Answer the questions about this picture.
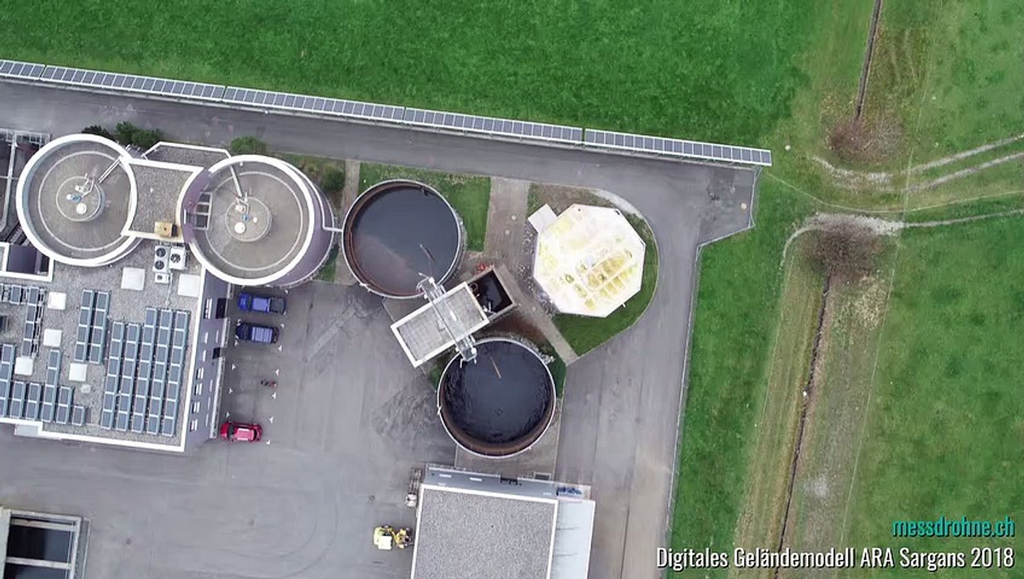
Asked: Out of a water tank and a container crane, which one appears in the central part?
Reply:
water tank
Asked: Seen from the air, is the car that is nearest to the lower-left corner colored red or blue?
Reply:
red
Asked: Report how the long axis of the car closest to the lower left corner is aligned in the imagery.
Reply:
from left to right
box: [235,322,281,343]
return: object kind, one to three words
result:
car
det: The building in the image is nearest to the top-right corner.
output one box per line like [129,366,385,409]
[527,203,646,317]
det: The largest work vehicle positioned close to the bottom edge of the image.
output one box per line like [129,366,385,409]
[372,522,415,554]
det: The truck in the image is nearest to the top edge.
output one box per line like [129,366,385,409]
[236,291,288,314]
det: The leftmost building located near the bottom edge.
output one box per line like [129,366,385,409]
[409,456,558,579]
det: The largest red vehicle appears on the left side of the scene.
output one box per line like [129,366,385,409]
[220,422,264,443]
